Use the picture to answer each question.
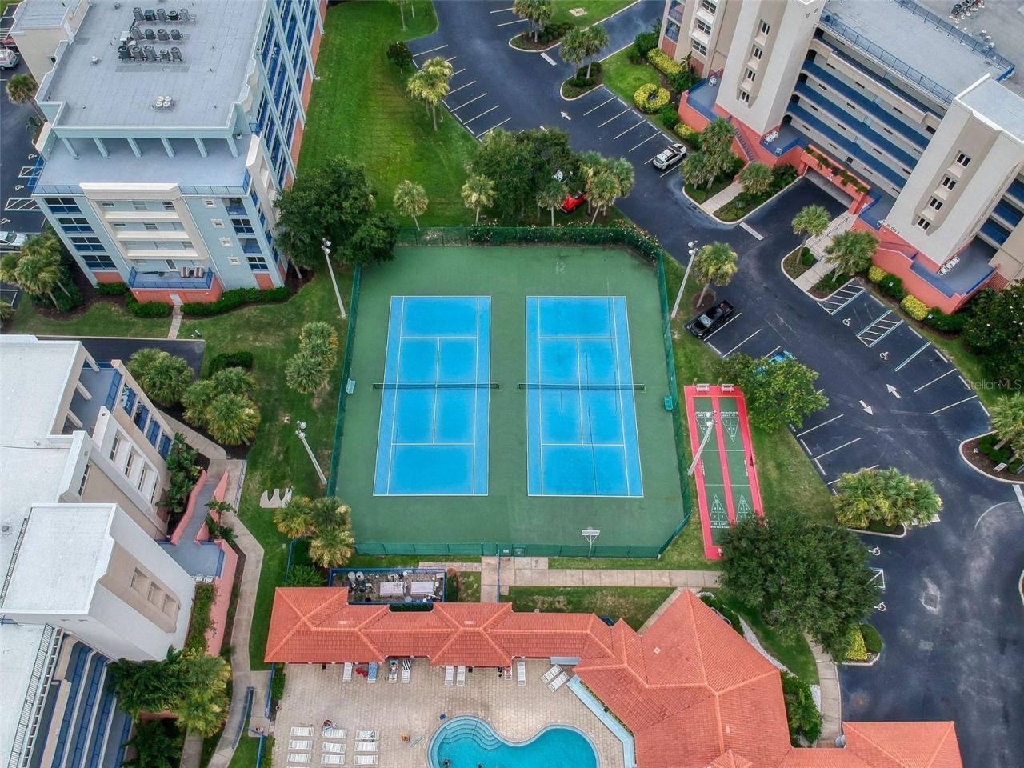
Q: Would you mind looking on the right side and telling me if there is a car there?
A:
Yes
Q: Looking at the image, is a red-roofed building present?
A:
Yes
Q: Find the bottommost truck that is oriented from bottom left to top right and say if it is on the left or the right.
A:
right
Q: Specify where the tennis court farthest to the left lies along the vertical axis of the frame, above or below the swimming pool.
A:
above it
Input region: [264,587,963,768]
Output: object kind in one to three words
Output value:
building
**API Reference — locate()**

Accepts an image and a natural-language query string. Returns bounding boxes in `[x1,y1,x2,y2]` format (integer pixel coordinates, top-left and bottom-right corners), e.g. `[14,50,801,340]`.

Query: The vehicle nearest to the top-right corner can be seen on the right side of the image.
[651,144,687,171]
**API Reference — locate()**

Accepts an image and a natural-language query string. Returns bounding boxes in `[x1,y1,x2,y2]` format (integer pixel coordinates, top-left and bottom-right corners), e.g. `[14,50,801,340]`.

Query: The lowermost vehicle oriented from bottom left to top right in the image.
[685,297,738,338]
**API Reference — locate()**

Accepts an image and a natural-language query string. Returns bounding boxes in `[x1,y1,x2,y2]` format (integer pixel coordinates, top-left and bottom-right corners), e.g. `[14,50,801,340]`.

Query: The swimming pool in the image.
[427,715,601,768]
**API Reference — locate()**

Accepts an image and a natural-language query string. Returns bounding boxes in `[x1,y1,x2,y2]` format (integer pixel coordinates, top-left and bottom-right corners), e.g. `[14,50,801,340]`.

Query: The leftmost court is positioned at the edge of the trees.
[331,250,508,555]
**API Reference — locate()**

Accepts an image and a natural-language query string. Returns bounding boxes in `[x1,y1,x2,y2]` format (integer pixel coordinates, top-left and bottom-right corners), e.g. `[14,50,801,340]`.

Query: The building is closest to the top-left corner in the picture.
[8,0,327,305]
